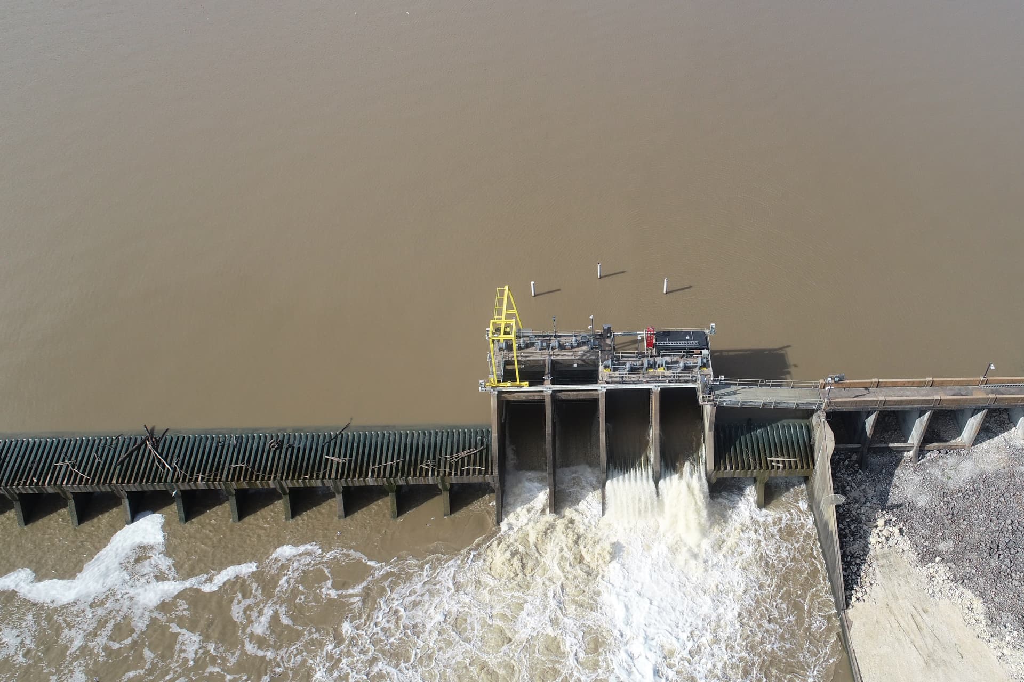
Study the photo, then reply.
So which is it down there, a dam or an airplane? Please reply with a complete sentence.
This aerial view contains a dam.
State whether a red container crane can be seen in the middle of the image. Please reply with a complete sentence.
No, there's no red container crane to be seen in the middle of the image.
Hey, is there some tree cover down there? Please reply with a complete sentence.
No, the scene doesn't show any tree cover.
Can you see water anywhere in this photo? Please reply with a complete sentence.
Yes, water can be seen from above here.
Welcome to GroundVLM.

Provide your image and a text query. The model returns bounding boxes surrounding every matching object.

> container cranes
[483,286,529,389]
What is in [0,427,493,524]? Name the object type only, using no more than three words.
dam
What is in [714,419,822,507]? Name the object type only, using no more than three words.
dam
